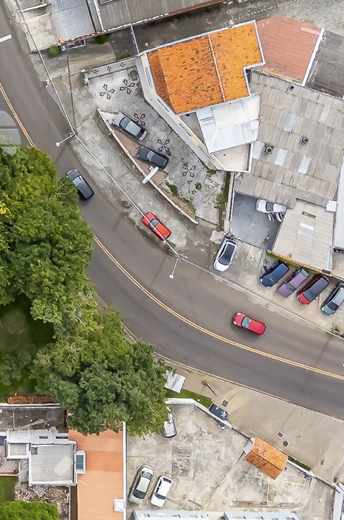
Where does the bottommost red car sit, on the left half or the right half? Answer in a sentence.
It is on the right.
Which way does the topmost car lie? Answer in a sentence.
Seen from above, the topmost car lies at an angle.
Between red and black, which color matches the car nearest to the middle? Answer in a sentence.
The car nearest to the middle looks red in the image.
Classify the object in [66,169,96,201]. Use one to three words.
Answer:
car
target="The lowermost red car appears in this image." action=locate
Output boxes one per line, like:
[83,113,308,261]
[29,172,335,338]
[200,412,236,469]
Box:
[234,312,267,336]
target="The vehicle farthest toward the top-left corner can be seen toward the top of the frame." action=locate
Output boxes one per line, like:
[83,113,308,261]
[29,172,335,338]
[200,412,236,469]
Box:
[113,113,148,142]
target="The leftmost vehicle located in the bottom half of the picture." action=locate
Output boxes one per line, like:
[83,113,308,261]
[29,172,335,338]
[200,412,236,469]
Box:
[130,467,154,504]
